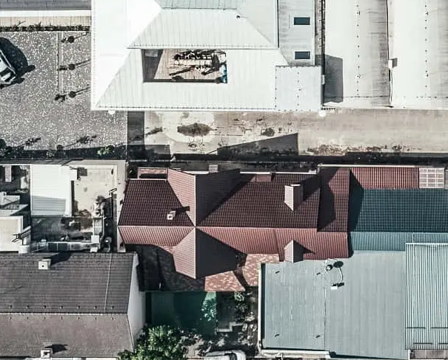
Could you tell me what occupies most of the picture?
buildings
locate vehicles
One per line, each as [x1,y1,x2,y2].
[0,43,17,86]
[202,351,246,360]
